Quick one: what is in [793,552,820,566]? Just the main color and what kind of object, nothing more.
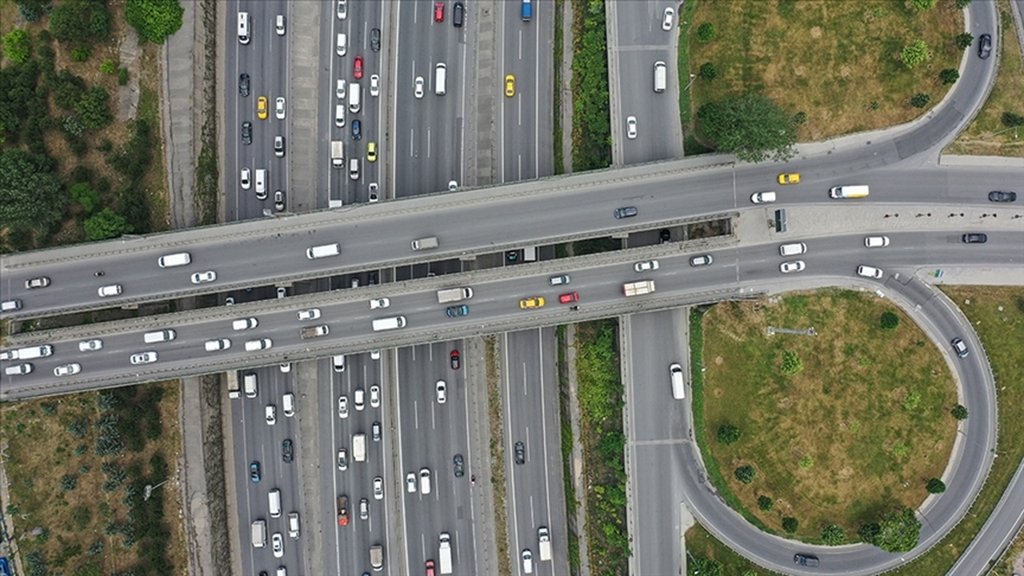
gray car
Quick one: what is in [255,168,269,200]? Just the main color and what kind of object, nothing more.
white vehicle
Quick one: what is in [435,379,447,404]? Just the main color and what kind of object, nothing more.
white vehicle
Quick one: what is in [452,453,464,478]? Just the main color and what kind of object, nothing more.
gray vehicle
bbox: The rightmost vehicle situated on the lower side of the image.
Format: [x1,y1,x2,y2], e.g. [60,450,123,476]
[949,336,968,359]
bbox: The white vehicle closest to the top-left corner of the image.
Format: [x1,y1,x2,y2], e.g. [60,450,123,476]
[237,10,251,45]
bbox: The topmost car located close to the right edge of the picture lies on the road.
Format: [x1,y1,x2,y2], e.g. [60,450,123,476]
[976,34,990,60]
